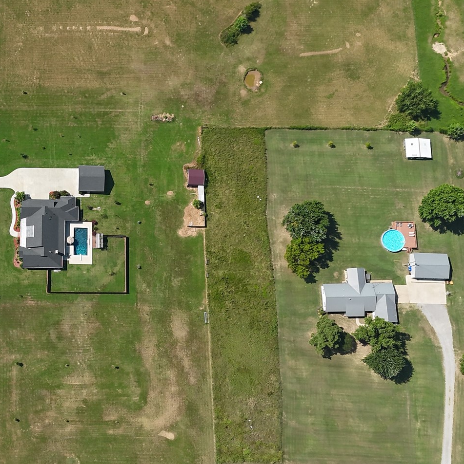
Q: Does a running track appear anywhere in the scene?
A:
No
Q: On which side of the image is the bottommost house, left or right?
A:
right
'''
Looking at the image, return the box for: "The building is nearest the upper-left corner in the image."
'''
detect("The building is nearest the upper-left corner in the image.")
[78,165,105,192]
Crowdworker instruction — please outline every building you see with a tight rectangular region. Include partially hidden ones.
[78,165,105,192]
[410,253,451,280]
[19,196,78,268]
[402,137,432,160]
[321,267,397,322]
[187,169,205,186]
